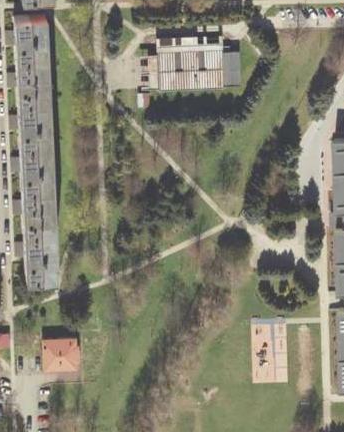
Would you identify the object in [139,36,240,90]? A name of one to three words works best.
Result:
building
